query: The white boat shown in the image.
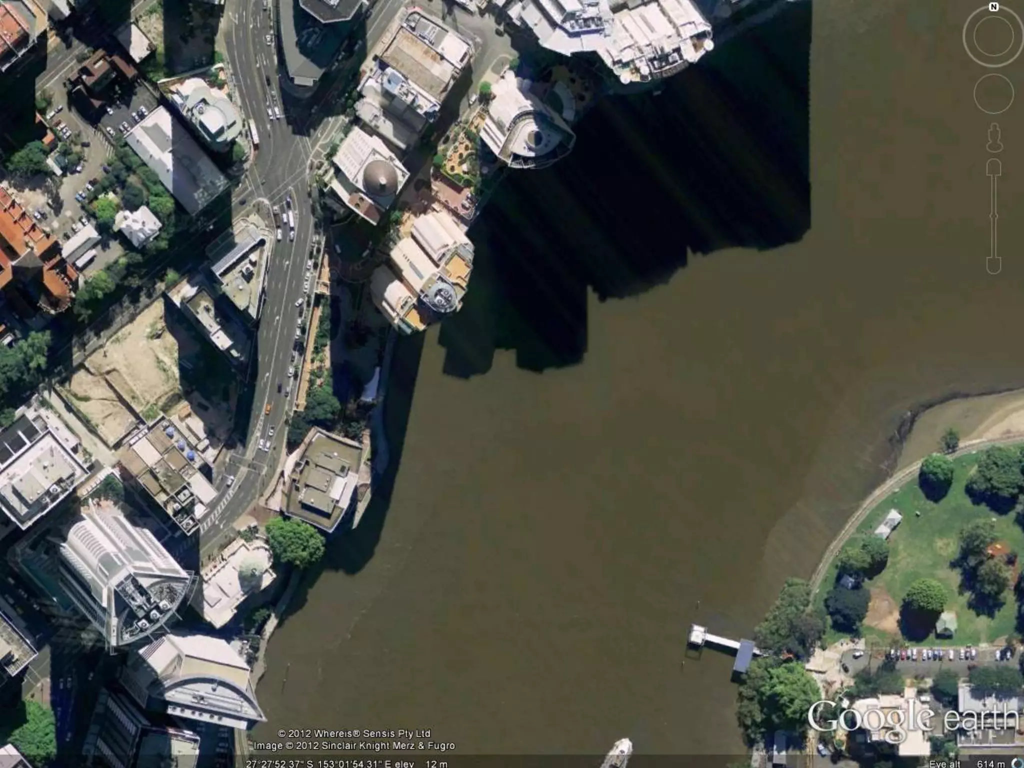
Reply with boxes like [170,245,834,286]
[605,739,632,768]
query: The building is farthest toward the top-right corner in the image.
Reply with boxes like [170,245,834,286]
[592,0,712,83]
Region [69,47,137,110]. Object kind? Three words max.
house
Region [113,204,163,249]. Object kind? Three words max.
house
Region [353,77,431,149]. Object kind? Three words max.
building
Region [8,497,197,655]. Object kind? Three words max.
building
